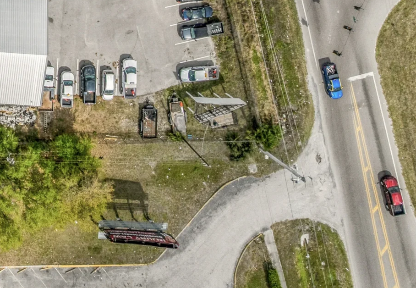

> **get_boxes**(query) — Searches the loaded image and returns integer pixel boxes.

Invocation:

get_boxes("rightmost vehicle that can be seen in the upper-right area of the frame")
[321,59,344,98]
